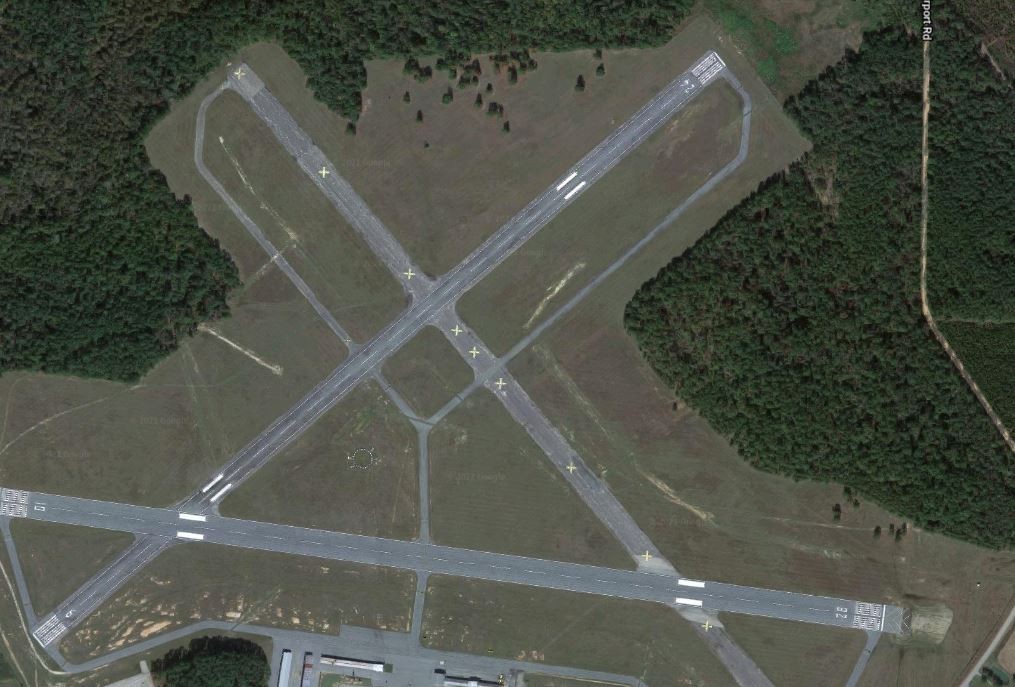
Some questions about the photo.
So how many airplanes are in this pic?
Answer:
none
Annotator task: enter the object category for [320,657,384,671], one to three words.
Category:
hangar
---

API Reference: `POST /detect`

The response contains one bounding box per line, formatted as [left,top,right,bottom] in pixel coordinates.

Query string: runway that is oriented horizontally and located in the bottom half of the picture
[0,487,913,635]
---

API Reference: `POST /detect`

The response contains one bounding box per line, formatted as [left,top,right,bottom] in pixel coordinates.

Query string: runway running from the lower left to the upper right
[32,50,726,648]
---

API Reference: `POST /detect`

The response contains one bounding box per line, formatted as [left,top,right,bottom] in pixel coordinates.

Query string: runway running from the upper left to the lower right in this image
[227,62,769,687]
